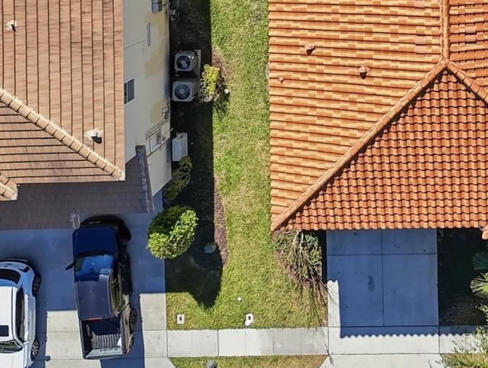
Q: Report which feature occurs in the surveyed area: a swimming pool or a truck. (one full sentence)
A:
The image shows a truck.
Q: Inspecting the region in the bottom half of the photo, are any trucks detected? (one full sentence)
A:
Yes, looking in the bottom half of the photo, one can make out a truck.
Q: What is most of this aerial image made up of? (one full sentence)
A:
What you mostly see from above here is buildings.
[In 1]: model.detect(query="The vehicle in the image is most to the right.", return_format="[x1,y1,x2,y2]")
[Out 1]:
[73,214,139,361]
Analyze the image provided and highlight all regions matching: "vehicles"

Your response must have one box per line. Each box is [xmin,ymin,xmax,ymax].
[0,257,39,368]
[73,214,139,361]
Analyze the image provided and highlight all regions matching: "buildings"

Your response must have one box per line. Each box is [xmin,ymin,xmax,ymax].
[266,0,488,247]
[0,0,172,216]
